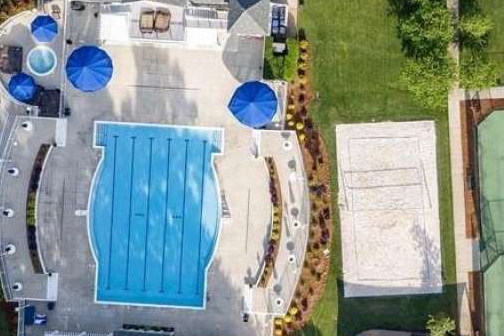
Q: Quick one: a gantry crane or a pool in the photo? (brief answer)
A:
pool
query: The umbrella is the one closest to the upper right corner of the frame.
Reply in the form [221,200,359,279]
[230,82,277,128]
